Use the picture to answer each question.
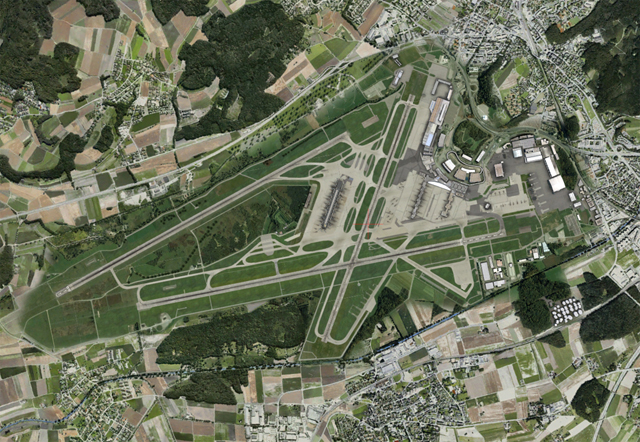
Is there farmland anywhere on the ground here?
Yes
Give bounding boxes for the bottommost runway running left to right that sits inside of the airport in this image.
[138,230,506,307]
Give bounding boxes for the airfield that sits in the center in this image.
[5,42,591,359]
